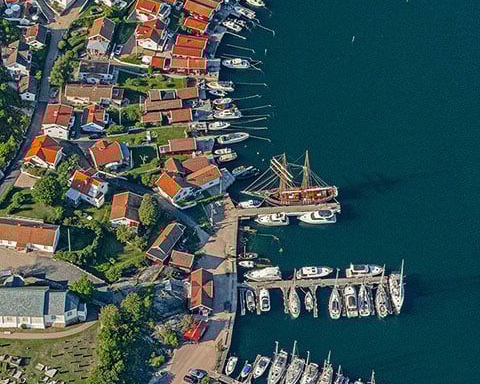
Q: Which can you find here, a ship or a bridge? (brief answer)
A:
ship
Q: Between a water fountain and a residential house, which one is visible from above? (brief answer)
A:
residential house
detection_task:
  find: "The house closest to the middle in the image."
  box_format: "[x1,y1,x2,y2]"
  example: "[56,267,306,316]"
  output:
[200,164,226,194]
